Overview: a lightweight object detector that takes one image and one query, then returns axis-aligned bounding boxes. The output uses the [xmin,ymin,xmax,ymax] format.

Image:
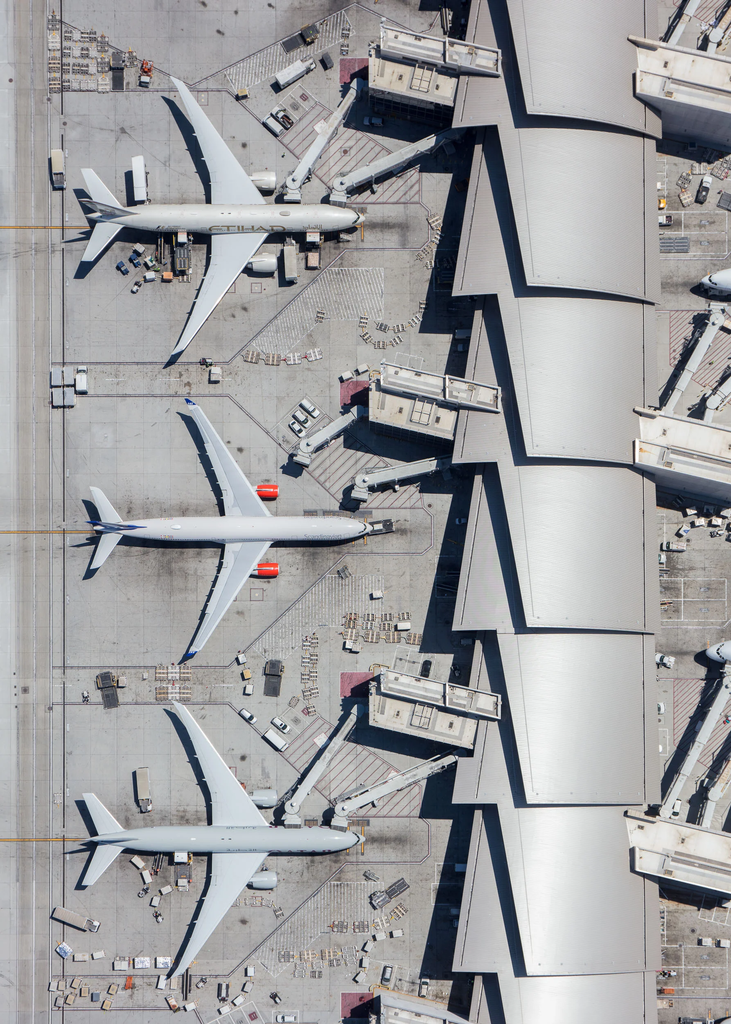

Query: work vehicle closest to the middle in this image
[368,518,396,536]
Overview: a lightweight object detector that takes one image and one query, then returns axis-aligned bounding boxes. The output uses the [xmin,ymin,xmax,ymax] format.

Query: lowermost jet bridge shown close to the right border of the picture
[699,751,731,827]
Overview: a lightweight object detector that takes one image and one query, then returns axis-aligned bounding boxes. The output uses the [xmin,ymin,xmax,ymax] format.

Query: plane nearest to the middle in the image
[86,395,373,656]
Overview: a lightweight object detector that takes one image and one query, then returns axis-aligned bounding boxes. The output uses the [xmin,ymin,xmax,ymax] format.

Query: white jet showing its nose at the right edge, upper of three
[701,267,731,292]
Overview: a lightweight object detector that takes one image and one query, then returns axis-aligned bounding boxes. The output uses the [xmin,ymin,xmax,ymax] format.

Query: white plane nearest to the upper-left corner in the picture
[78,75,365,353]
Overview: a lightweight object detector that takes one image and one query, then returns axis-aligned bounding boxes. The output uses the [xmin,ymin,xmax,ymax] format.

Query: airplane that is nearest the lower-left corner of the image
[78,699,366,978]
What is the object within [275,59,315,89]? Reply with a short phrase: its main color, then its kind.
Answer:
white truck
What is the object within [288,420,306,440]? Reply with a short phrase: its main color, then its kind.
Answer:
white car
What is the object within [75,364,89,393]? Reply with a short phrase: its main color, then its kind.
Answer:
white vehicle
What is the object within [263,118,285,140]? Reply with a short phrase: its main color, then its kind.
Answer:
white vehicle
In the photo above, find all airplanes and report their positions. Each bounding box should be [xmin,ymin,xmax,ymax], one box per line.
[78,699,366,978]
[706,640,731,662]
[78,75,365,353]
[701,267,731,292]
[86,395,373,656]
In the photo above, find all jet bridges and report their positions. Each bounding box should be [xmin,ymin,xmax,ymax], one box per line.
[348,449,461,503]
[703,0,731,58]
[655,660,731,821]
[662,0,705,51]
[291,403,369,470]
[701,370,731,425]
[328,748,466,830]
[326,119,461,207]
[699,751,731,827]
[280,702,369,826]
[659,299,731,419]
[280,77,370,204]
